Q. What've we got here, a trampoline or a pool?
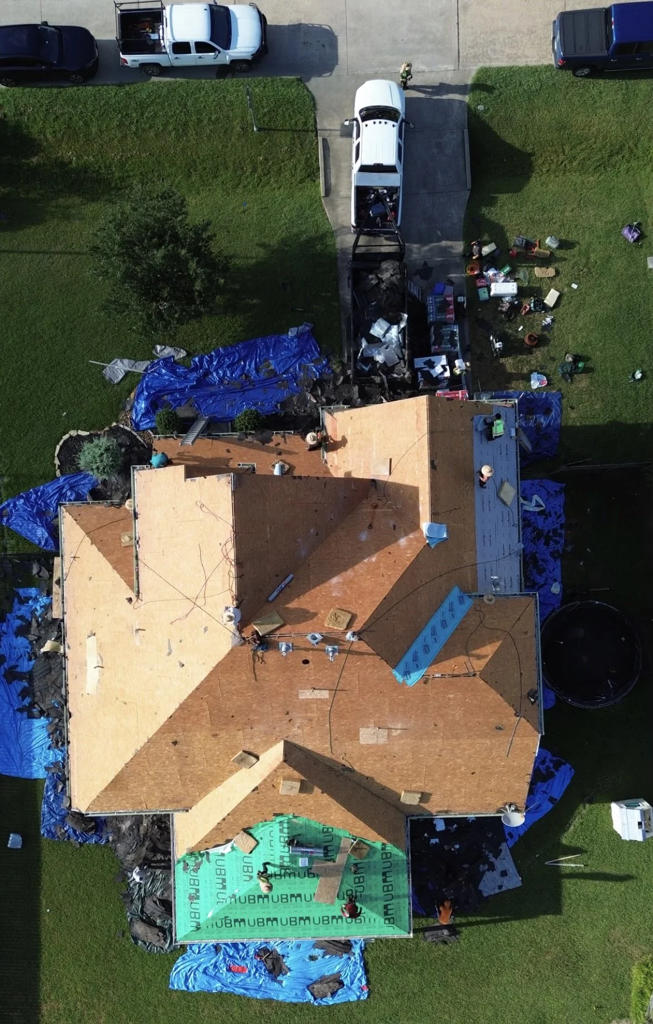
trampoline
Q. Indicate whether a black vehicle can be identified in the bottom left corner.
No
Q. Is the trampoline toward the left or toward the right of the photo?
right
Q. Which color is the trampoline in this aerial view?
black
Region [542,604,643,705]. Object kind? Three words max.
trampoline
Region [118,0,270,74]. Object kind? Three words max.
truck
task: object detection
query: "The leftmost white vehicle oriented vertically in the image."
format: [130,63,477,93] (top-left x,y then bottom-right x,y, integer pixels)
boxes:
[341,78,417,238]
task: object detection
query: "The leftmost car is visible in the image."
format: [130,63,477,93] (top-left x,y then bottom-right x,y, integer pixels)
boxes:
[0,16,101,84]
